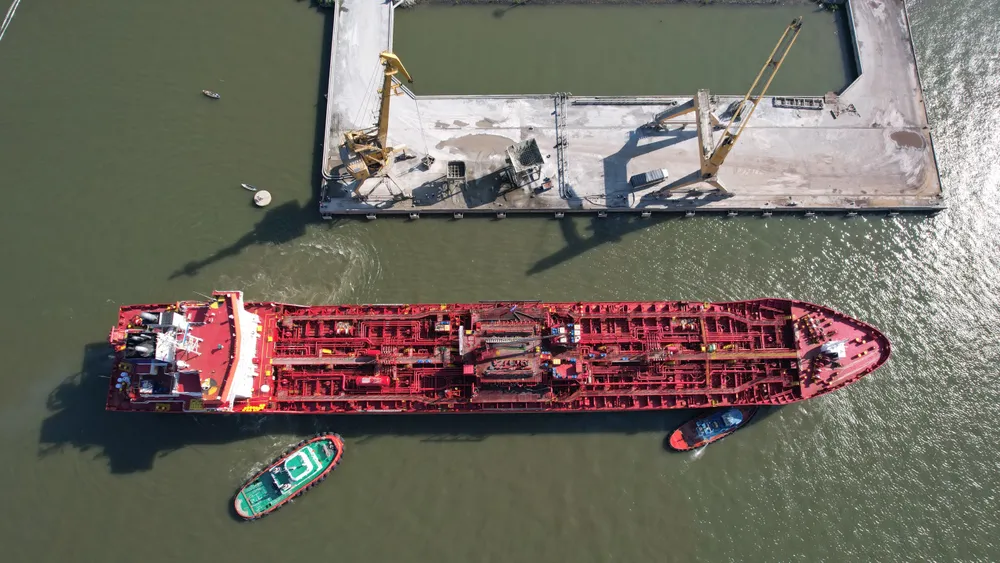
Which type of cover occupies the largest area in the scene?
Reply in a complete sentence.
The largest share of the image is taken up by water.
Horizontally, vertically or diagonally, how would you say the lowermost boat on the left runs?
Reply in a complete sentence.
Seen from above, the lowermost boat on the left lies diagonally.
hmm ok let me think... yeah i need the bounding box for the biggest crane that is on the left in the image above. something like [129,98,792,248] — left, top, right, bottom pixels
[340,50,428,192]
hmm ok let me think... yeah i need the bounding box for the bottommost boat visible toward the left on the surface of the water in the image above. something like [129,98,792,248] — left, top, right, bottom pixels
[235,433,346,522]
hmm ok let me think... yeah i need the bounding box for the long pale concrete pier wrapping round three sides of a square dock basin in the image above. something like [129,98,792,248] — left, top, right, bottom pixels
[319,0,946,222]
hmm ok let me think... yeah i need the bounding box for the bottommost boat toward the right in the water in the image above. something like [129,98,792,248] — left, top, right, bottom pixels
[666,409,759,458]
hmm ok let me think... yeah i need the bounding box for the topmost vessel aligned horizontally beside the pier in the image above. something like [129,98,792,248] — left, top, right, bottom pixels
[103,290,892,413]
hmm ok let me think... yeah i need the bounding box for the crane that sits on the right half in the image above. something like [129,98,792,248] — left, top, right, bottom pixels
[646,8,809,192]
